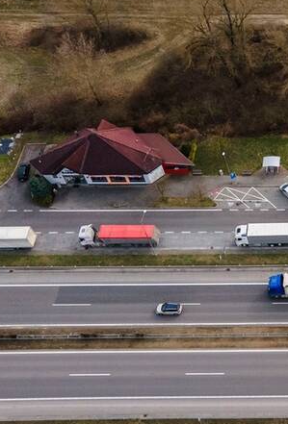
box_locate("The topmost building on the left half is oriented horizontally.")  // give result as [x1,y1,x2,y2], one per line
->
[30,120,196,184]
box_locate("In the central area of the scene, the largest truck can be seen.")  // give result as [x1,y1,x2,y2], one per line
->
[77,224,159,248]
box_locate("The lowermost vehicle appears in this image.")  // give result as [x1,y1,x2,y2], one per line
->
[154,302,182,316]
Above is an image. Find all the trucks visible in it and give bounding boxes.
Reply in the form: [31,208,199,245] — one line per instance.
[232,221,288,246]
[267,272,288,297]
[77,224,159,248]
[0,224,39,249]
